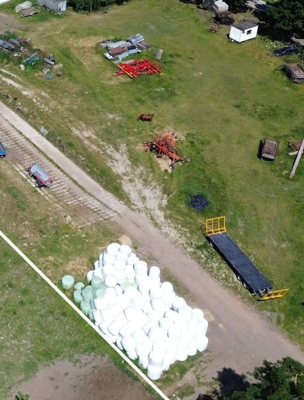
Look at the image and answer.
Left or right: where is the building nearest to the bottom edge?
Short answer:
right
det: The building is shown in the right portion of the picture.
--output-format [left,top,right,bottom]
[229,12,261,37]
